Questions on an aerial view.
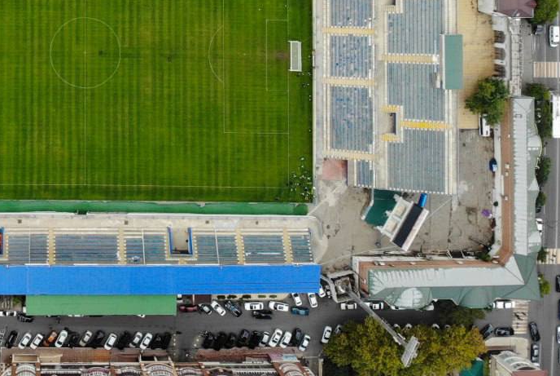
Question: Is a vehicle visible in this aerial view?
Yes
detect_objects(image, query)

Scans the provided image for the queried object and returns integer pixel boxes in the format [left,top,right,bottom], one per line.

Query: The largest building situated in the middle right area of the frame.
[347,97,542,317]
